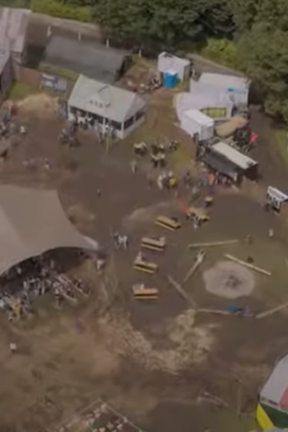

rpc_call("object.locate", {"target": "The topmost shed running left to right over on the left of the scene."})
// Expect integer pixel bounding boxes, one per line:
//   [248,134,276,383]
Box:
[39,33,135,84]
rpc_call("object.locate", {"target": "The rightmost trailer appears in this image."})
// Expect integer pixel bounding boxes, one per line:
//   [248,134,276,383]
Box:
[196,139,260,190]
